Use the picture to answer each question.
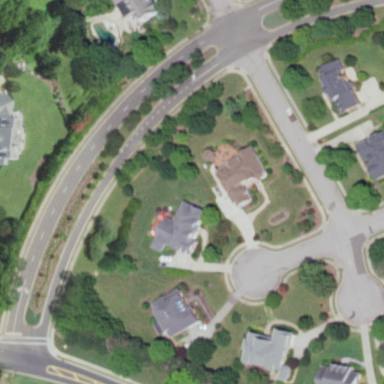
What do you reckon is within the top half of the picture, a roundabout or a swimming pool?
swimming pool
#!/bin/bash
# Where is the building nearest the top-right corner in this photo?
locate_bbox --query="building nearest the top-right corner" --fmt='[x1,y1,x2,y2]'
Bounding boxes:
[316,58,358,114]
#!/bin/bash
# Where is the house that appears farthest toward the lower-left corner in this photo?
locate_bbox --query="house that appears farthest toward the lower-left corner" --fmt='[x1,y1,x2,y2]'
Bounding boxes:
[152,289,198,337]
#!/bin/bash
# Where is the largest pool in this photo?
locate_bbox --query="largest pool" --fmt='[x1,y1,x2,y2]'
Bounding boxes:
[92,22,120,50]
